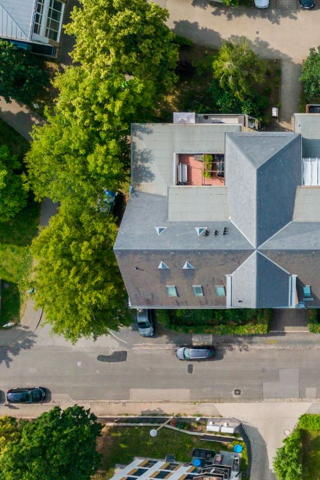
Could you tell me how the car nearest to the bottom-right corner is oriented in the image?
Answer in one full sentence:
I'd say the car nearest to the bottom-right corner is aligned from left to right in the picture.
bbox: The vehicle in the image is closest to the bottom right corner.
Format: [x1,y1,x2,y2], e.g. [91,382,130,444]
[177,343,215,363]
